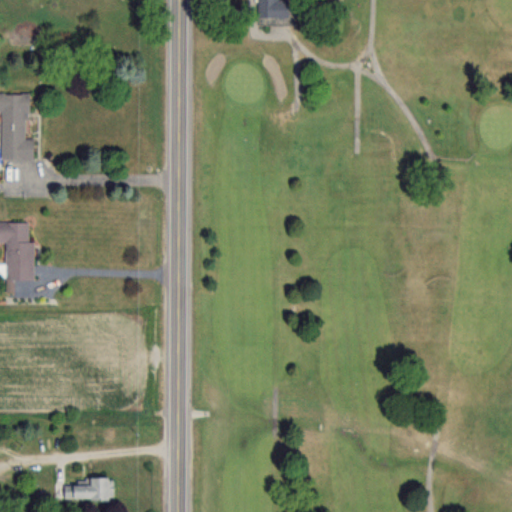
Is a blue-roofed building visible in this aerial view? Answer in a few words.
No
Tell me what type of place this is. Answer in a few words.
golf course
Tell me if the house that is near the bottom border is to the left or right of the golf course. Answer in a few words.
left of it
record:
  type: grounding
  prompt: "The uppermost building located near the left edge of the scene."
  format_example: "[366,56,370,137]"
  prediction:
[0,93,34,161]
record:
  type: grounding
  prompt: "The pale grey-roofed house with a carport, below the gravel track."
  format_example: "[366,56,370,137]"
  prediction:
[64,478,116,502]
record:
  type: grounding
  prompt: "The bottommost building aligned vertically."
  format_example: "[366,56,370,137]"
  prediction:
[0,222,35,295]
